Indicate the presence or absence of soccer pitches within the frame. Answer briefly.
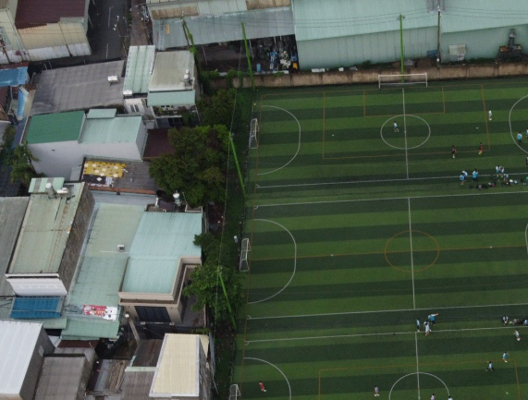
Yes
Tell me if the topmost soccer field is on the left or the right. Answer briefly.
right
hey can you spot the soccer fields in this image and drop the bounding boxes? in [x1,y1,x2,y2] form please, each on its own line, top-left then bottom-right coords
[234,183,528,329]
[229,316,528,400]
[245,75,528,196]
